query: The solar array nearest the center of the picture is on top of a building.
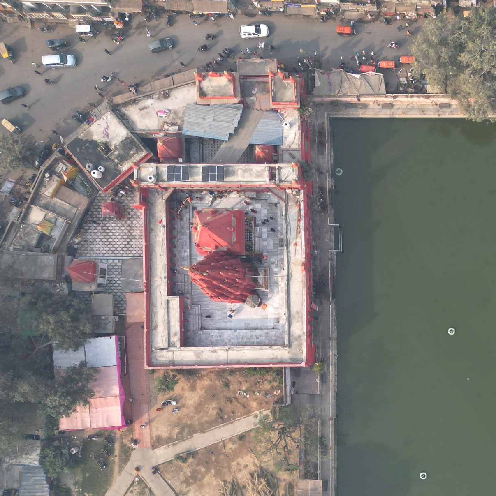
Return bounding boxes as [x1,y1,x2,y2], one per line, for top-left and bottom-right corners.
[201,165,224,182]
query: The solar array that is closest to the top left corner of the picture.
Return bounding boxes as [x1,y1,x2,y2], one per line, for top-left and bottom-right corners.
[166,165,189,182]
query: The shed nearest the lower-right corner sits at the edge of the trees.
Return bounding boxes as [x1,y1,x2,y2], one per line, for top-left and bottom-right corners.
[297,477,325,496]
